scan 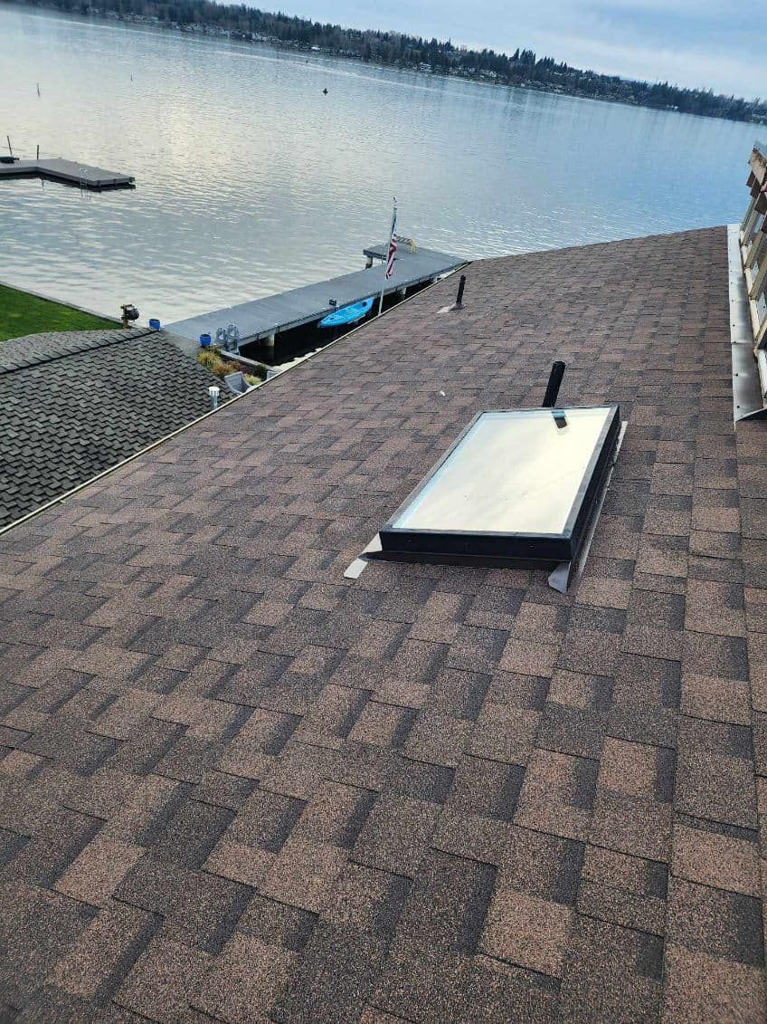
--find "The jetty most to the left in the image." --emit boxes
[0,159,130,190]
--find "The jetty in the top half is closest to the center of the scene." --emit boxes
[160,241,473,358]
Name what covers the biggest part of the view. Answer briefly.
buildings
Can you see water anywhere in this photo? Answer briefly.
Yes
